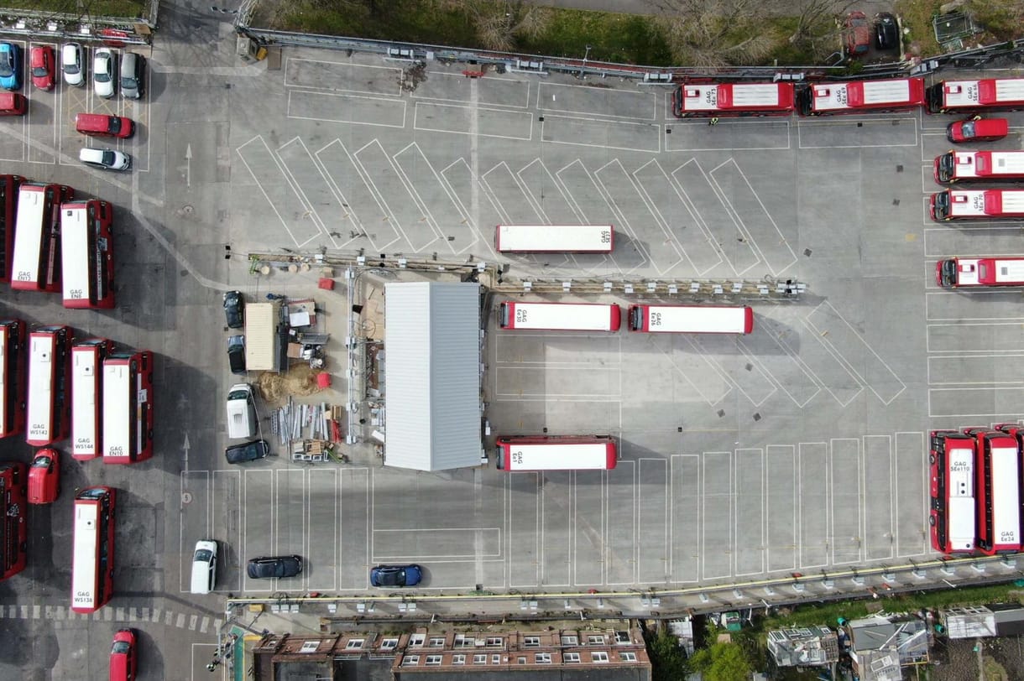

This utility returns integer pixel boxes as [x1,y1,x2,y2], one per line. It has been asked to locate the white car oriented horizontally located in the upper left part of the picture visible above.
[81,147,133,171]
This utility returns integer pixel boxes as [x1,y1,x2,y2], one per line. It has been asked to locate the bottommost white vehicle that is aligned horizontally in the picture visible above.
[497,433,616,469]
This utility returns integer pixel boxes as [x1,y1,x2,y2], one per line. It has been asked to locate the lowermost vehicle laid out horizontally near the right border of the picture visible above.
[936,254,1024,290]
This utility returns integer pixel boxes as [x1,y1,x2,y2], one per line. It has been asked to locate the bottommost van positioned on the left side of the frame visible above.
[108,627,138,681]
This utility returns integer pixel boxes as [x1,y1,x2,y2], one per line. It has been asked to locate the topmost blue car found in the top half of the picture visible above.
[0,43,22,90]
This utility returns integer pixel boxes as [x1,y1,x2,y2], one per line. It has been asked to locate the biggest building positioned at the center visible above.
[383,282,489,471]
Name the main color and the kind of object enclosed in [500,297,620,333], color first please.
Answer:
white bus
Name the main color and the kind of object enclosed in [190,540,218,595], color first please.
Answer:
white van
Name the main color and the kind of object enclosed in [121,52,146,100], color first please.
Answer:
gray car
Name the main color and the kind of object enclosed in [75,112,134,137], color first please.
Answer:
red vehicle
